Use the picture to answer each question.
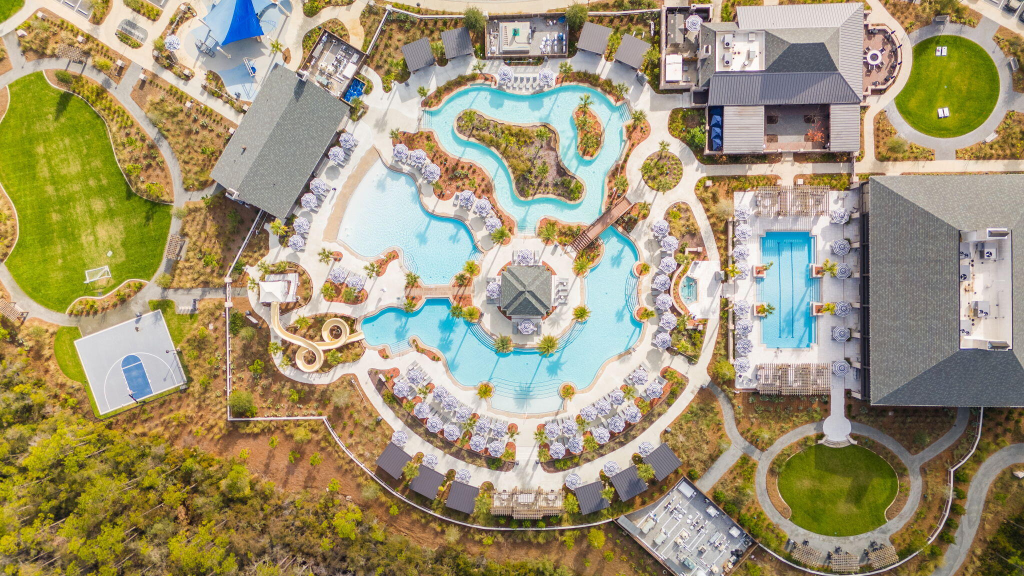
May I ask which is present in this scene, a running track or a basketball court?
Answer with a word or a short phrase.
basketball court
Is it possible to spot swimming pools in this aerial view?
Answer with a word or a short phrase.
Yes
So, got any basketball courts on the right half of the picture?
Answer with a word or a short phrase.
No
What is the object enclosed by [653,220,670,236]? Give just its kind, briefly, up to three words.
umbrella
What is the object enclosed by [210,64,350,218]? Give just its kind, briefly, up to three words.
building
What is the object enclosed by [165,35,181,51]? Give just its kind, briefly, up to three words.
umbrella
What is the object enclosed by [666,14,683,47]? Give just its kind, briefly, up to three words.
shed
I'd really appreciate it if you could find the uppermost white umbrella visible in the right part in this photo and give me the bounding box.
[685,15,702,32]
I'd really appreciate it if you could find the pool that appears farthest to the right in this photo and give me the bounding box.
[754,229,822,350]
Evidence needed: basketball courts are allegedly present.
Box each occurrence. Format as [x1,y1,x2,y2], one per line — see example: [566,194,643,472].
[74,309,187,415]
